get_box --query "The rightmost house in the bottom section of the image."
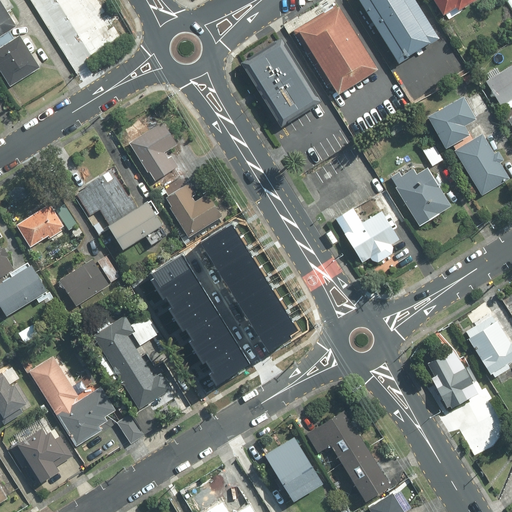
[466,314,512,378]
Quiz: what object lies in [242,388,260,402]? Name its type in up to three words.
vehicle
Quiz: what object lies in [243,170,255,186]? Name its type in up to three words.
vehicle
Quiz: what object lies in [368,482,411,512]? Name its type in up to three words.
house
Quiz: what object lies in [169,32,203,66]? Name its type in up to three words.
roundabout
